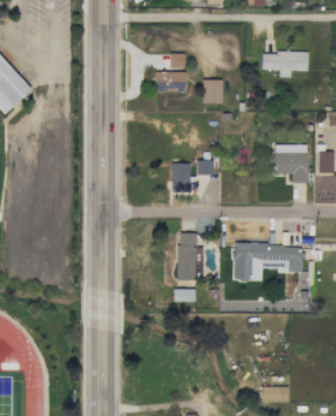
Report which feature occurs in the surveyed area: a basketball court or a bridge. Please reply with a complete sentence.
Of the two, only a bridge appears.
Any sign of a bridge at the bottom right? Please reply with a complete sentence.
No, I see no bridge at the bottom right.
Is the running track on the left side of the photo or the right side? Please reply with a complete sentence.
The running track sits on the left side.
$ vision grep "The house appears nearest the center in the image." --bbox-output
[172,162,190,192]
